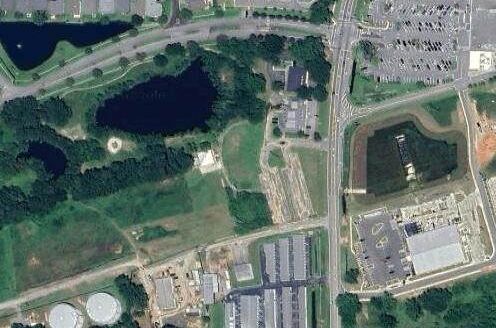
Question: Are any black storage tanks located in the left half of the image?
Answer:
No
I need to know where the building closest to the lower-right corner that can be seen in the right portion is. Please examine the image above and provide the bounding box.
[406,225,468,274]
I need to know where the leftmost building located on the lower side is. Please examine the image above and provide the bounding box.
[156,277,176,309]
